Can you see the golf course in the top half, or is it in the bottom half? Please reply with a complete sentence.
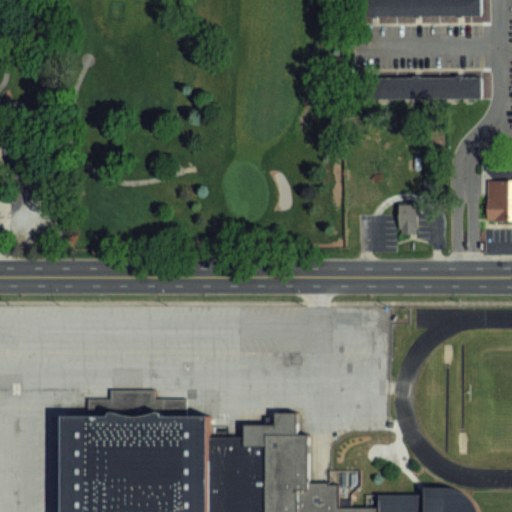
The golf course is in the top half of the image.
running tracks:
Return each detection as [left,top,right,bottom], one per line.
[396,309,512,488]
